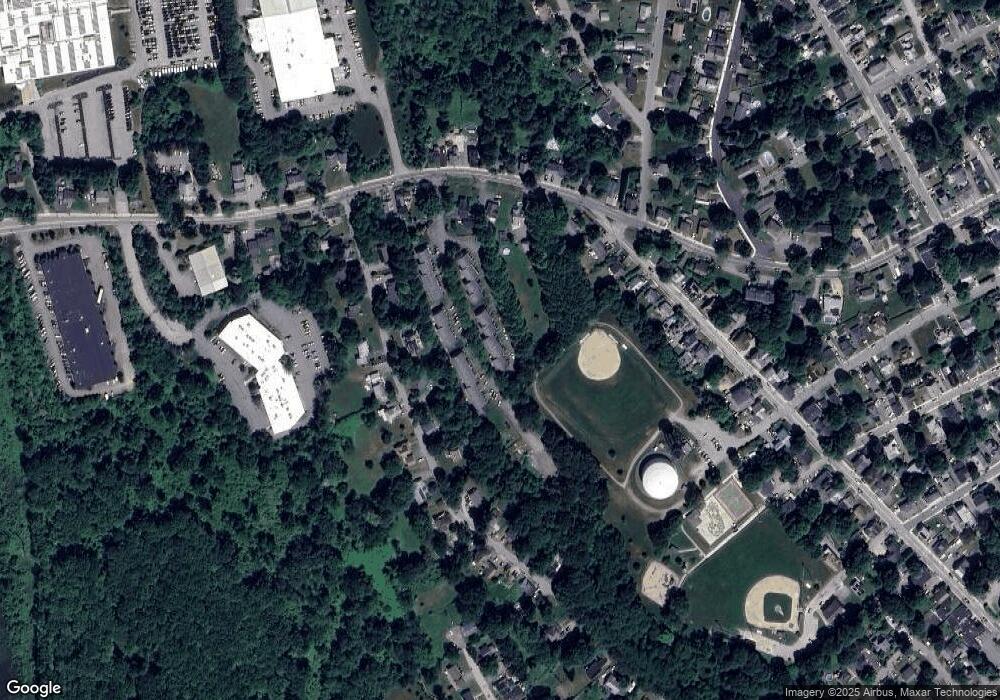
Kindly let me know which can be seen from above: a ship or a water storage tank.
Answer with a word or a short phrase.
water storage tank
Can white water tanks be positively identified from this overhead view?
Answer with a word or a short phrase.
Yes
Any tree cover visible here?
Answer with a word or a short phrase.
Yes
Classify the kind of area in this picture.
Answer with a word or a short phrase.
residential area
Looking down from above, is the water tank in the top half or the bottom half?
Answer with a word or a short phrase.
bottom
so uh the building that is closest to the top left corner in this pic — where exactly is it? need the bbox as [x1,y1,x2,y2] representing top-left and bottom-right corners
[0,0,116,85]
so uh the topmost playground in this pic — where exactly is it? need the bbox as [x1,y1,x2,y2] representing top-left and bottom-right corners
[697,496,737,545]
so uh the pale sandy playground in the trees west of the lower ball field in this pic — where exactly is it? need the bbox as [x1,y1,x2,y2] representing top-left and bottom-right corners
[643,562,682,606]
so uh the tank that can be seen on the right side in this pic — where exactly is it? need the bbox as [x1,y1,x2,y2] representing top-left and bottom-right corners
[634,455,687,508]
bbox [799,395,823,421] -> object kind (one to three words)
house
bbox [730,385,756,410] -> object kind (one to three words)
house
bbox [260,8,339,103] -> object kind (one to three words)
building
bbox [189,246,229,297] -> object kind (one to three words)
building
